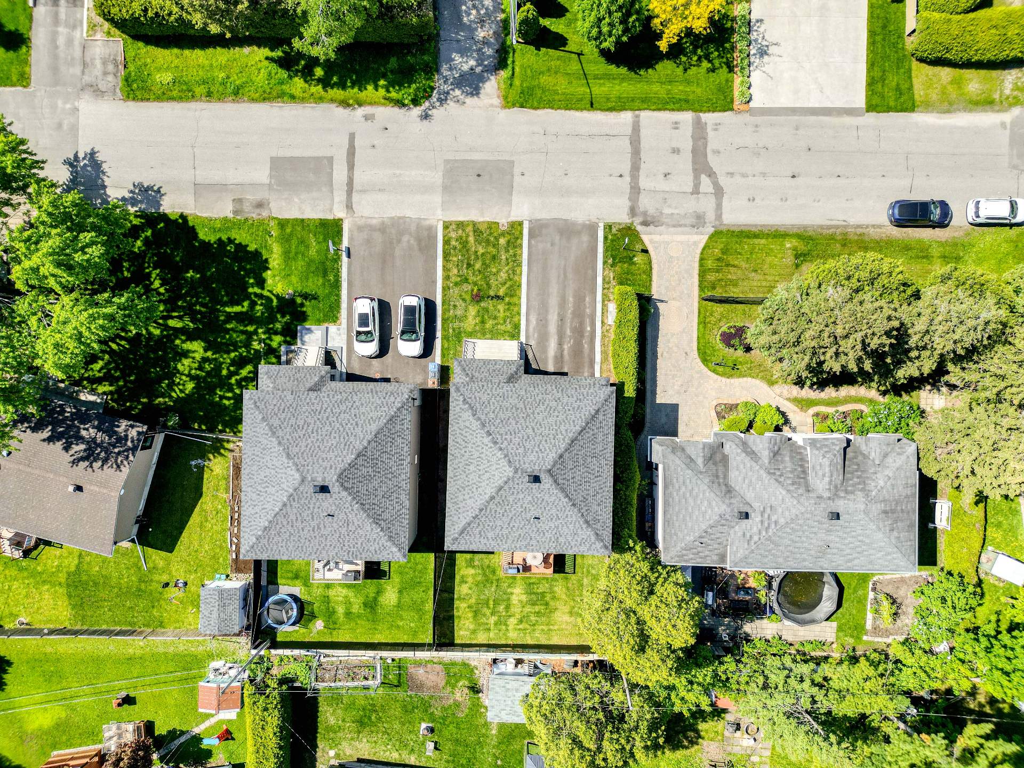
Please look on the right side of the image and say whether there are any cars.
Yes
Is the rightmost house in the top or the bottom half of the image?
bottom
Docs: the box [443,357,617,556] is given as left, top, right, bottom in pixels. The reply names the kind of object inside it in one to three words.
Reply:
house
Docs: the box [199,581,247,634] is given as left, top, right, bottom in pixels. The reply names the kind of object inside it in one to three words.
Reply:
shed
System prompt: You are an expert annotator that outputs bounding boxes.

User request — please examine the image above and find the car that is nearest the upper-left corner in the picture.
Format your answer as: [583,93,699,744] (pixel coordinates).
[349,294,380,357]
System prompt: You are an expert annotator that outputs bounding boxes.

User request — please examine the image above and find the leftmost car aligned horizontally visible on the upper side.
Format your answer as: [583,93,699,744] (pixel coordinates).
[883,195,951,228]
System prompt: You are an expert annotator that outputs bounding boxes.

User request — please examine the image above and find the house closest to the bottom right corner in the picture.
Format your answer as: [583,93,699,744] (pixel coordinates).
[647,430,918,573]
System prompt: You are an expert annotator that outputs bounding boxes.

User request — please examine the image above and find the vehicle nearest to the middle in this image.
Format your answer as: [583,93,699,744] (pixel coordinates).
[394,293,426,358]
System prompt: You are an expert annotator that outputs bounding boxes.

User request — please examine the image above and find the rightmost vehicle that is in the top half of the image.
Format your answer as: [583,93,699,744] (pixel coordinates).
[962,194,1024,226]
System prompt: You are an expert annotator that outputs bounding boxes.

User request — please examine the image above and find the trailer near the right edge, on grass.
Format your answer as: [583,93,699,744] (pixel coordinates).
[979,547,1024,585]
